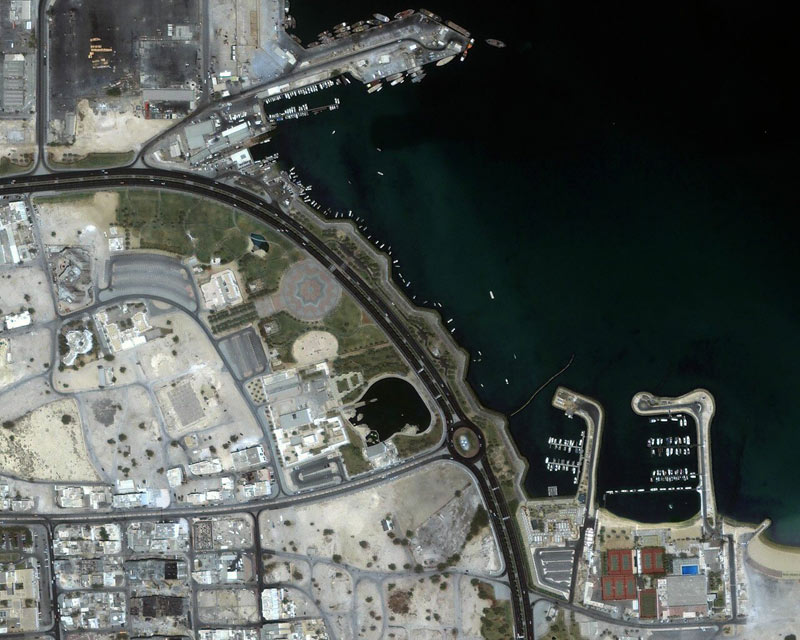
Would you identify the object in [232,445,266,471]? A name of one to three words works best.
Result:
building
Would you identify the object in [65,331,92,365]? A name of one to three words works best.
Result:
house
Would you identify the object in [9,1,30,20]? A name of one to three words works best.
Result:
building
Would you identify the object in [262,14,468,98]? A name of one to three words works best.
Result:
pier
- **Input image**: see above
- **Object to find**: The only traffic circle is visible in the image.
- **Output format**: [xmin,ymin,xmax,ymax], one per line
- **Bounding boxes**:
[447,421,485,464]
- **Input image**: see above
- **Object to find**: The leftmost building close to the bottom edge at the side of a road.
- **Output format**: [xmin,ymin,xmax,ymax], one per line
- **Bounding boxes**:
[0,568,38,634]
